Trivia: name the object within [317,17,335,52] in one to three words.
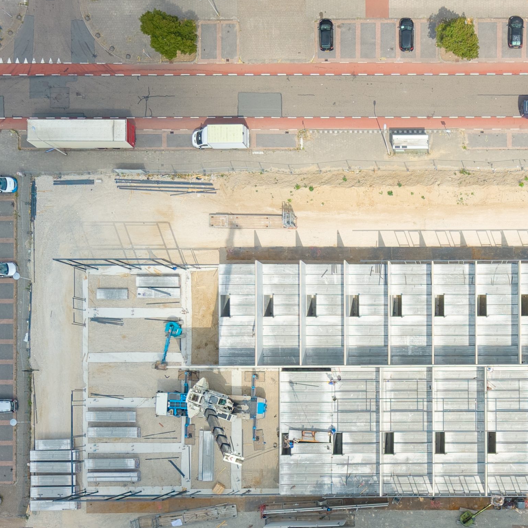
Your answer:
car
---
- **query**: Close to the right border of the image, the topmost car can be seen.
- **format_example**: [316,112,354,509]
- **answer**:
[507,15,525,50]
